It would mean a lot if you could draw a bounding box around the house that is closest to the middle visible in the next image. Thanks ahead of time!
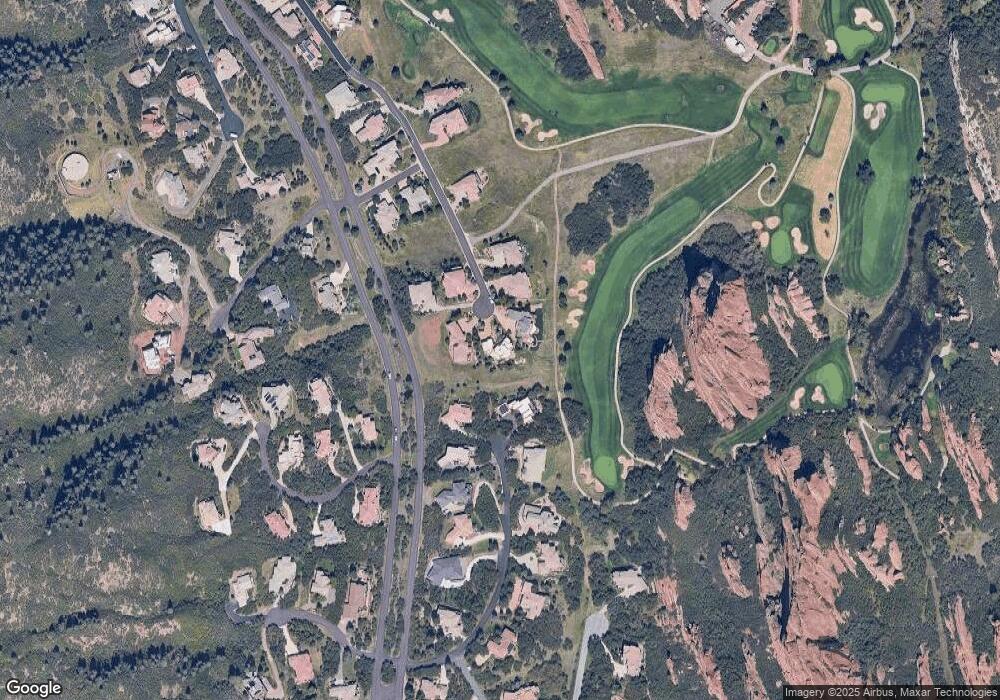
[480,335,516,362]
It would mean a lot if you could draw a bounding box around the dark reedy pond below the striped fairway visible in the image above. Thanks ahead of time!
[865,201,942,401]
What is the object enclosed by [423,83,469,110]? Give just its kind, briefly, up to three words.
house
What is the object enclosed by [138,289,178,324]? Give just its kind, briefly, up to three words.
house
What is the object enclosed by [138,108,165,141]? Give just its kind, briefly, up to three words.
building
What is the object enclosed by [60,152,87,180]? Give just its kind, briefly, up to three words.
water tank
